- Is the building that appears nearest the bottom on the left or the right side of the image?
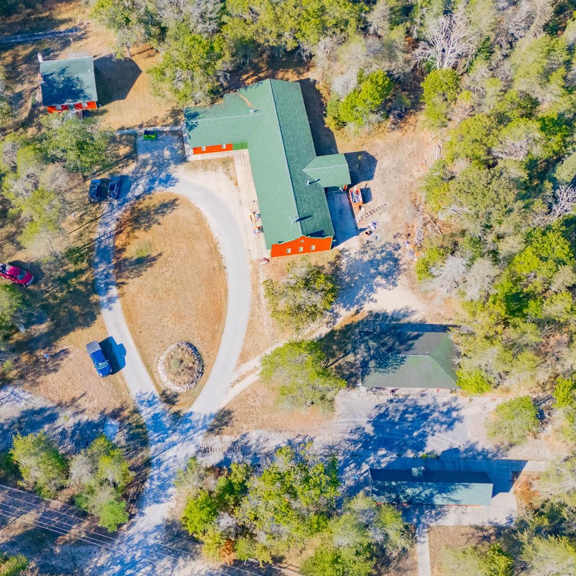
right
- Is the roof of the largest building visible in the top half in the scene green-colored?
Yes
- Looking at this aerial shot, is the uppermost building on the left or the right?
left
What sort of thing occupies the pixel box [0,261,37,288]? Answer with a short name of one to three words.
truck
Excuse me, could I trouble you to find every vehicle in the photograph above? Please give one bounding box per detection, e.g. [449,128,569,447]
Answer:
[105,174,123,204]
[84,339,113,381]
[0,261,37,288]
[87,178,105,207]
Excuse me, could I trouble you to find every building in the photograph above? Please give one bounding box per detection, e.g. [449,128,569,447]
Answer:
[37,50,99,121]
[358,331,460,390]
[184,80,351,257]
[369,468,493,507]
